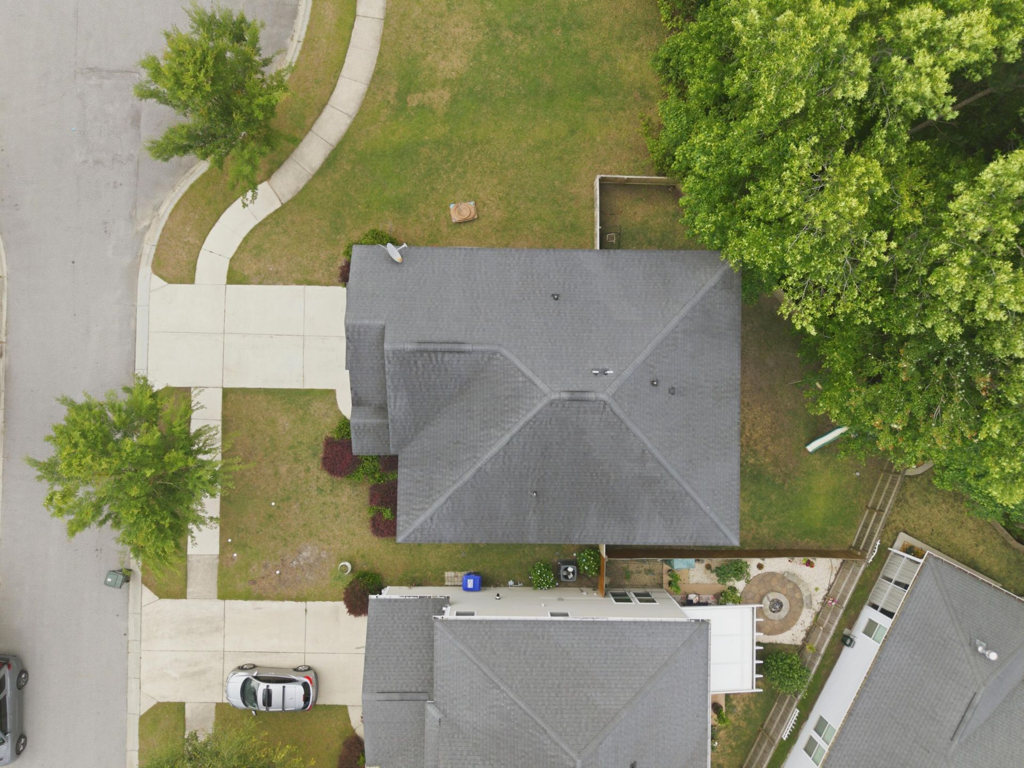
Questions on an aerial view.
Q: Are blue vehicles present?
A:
No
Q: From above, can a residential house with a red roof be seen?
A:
No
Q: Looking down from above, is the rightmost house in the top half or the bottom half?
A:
bottom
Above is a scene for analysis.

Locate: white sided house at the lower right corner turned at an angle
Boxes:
[789,549,1024,768]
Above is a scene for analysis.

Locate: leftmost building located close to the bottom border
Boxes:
[362,583,713,768]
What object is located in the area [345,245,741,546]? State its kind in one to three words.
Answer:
house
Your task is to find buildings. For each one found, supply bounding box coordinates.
[345,245,741,546]
[362,583,713,768]
[789,549,1024,768]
